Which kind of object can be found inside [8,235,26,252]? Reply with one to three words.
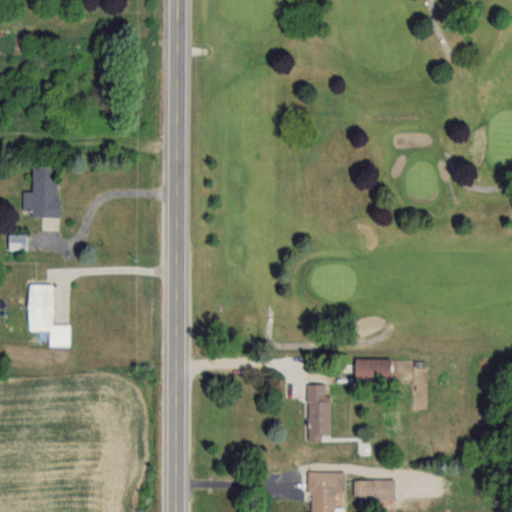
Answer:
shed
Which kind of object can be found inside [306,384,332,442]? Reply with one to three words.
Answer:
house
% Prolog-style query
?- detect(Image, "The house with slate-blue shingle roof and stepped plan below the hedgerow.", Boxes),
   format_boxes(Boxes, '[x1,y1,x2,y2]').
[22,168,60,218]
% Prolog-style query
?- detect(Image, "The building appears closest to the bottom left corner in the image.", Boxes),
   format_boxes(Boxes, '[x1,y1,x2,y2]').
[28,284,72,350]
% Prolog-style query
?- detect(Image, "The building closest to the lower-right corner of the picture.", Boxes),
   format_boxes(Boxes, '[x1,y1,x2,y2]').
[354,480,394,501]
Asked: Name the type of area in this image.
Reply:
golf course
